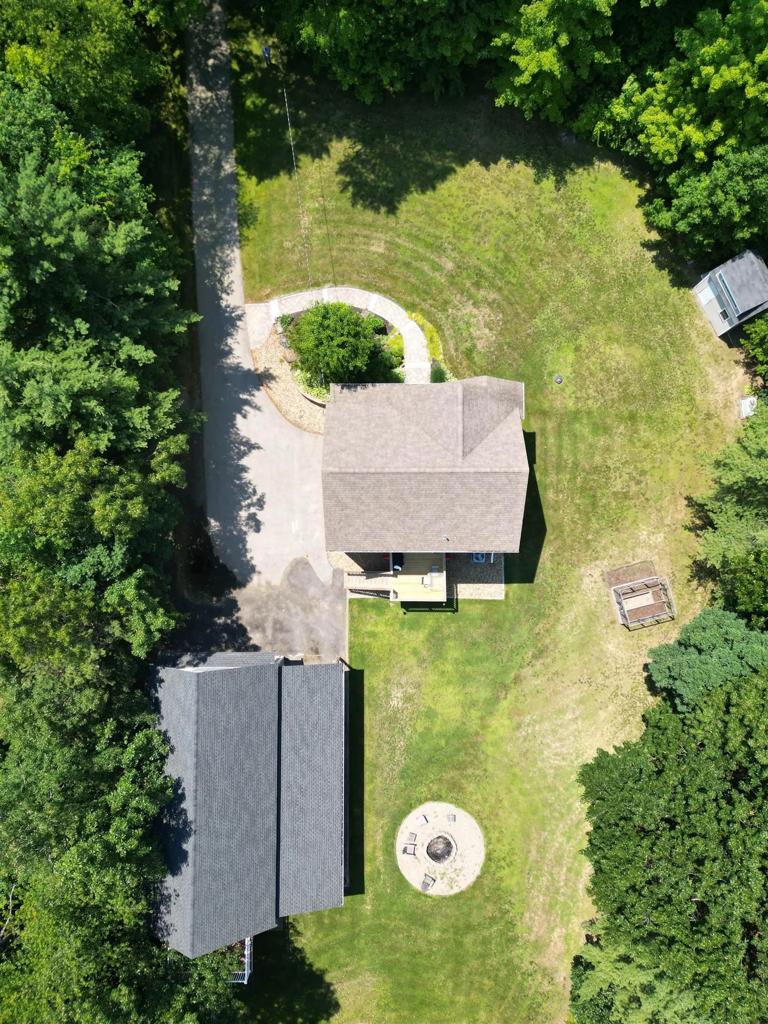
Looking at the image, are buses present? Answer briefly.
No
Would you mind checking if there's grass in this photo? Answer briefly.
Yes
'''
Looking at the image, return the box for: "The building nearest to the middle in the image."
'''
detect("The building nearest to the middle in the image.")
[320,370,528,554]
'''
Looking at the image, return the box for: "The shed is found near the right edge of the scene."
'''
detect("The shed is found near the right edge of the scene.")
[693,248,768,337]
